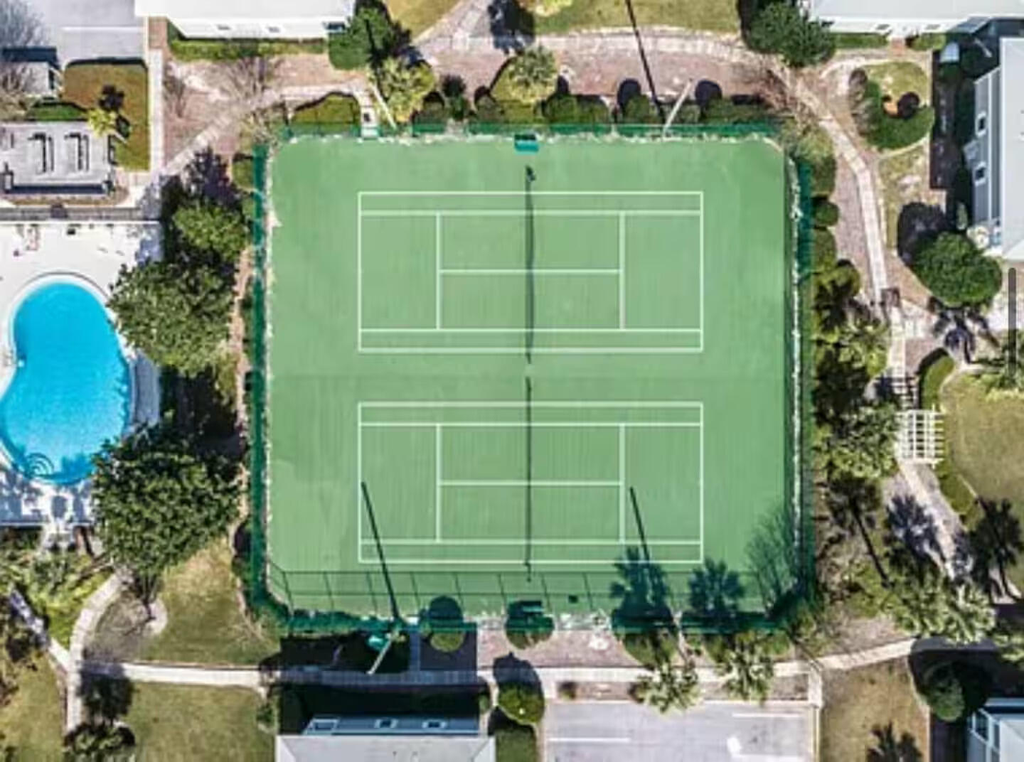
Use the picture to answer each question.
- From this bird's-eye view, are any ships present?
No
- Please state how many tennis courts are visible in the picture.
2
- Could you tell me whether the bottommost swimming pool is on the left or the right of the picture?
left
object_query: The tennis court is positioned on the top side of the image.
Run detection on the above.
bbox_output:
[269,138,795,377]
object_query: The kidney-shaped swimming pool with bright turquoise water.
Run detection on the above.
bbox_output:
[0,276,138,493]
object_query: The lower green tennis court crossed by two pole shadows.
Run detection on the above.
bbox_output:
[269,377,796,615]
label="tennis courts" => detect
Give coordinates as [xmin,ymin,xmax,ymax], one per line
[269,377,796,615]
[269,138,795,377]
